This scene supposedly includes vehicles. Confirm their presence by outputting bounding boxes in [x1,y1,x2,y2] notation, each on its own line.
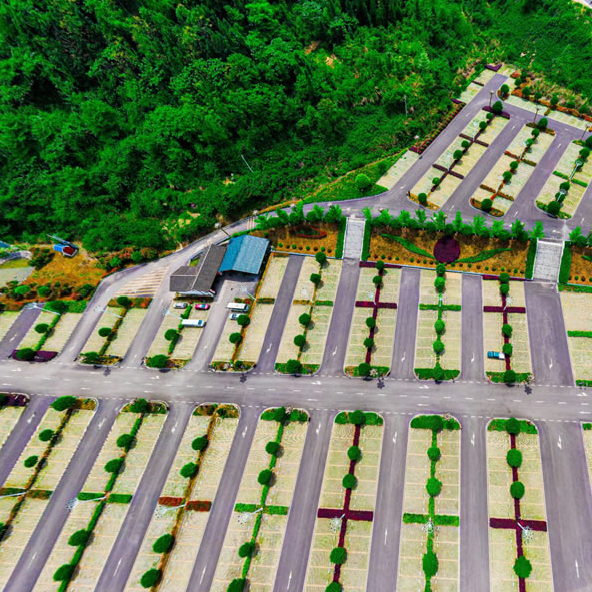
[487,351,505,359]
[228,314,242,321]
[181,319,206,329]
[193,303,210,311]
[172,303,189,310]
[225,304,250,313]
